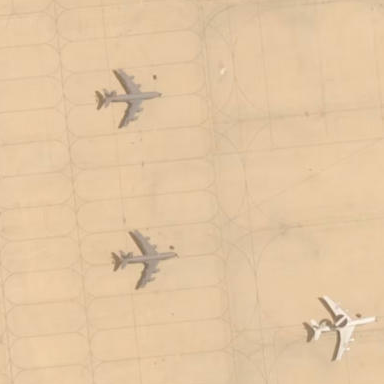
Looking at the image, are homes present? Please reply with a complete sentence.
No, there's no home here.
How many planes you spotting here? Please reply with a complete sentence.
Looking from above, you can make out 3 planes.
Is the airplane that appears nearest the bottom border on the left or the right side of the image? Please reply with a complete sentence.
The airplane that appears nearest the bottom border appears in the right half of the scene.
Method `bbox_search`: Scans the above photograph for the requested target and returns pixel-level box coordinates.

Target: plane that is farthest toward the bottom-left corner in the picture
[119,230,177,288]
